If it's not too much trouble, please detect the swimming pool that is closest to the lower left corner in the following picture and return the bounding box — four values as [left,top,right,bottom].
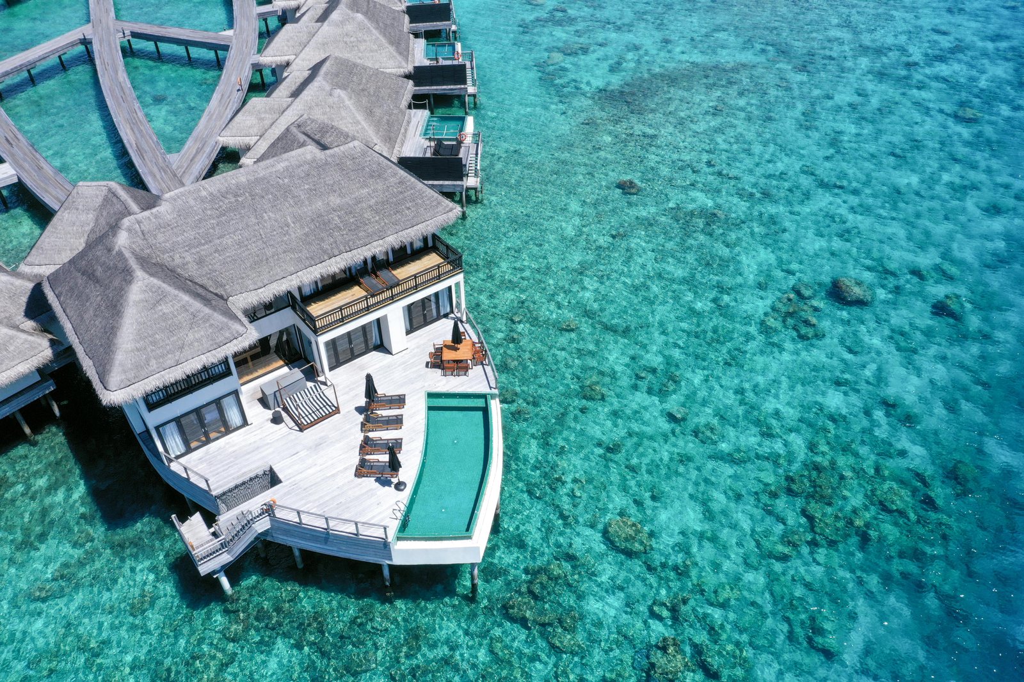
[392,391,504,604]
